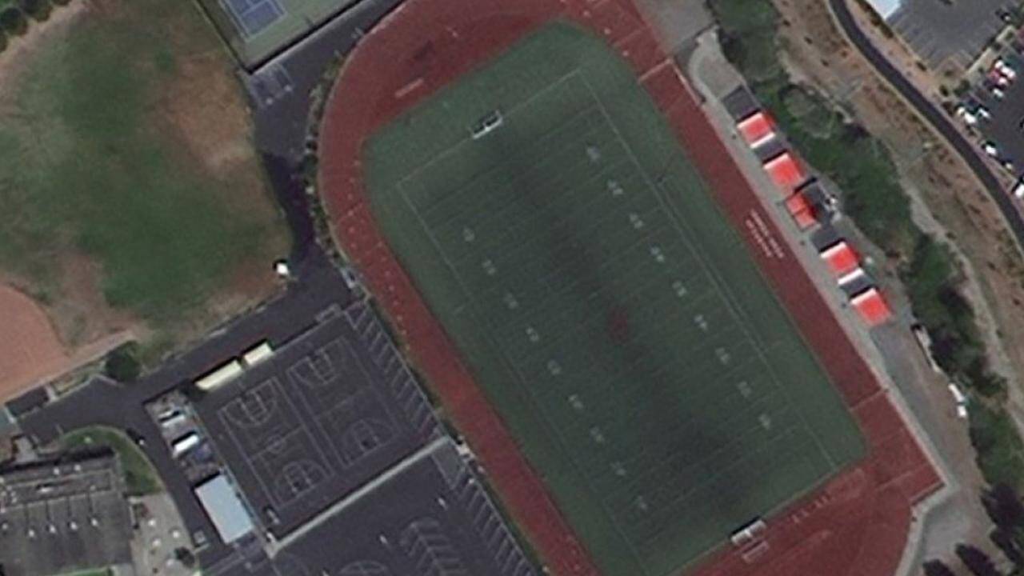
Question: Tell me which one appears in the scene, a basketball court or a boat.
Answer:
basketball court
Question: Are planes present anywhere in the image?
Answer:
No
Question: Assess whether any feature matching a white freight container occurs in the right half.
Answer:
No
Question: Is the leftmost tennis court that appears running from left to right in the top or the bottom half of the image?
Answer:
top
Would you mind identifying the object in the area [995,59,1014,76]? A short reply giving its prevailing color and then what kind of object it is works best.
white car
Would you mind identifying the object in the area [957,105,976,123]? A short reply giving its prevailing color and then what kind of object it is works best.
white car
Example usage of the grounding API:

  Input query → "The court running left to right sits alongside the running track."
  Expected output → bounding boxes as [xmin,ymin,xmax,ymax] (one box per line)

[204,0,370,69]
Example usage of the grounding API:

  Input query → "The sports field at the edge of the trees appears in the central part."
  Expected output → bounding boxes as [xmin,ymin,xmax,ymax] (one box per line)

[359,18,869,576]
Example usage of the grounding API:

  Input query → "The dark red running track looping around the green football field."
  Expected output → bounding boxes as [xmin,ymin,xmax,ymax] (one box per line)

[318,0,944,576]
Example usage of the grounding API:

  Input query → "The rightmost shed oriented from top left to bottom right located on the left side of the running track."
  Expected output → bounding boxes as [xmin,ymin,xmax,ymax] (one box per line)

[195,474,254,546]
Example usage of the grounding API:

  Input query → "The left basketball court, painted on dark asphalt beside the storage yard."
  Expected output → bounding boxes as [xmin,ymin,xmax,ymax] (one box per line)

[220,379,333,508]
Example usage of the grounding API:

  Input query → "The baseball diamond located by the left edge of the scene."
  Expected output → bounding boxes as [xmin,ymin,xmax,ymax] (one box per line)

[0,0,288,405]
